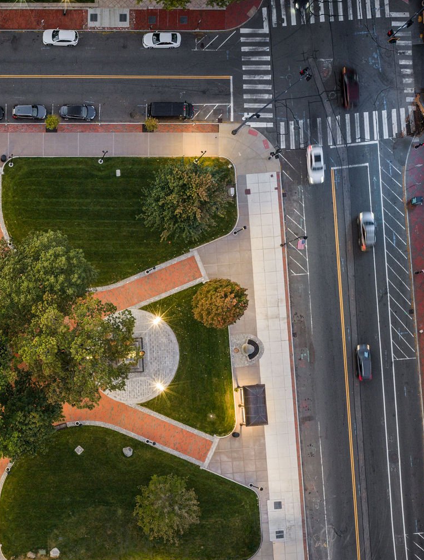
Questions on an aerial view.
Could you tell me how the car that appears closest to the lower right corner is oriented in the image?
vertically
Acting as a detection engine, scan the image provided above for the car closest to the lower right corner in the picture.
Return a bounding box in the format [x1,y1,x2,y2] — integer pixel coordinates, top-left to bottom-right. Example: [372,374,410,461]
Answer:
[356,344,376,382]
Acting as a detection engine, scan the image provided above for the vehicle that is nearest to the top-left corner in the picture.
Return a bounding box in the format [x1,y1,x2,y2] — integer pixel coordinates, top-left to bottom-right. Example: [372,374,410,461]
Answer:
[43,25,80,44]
